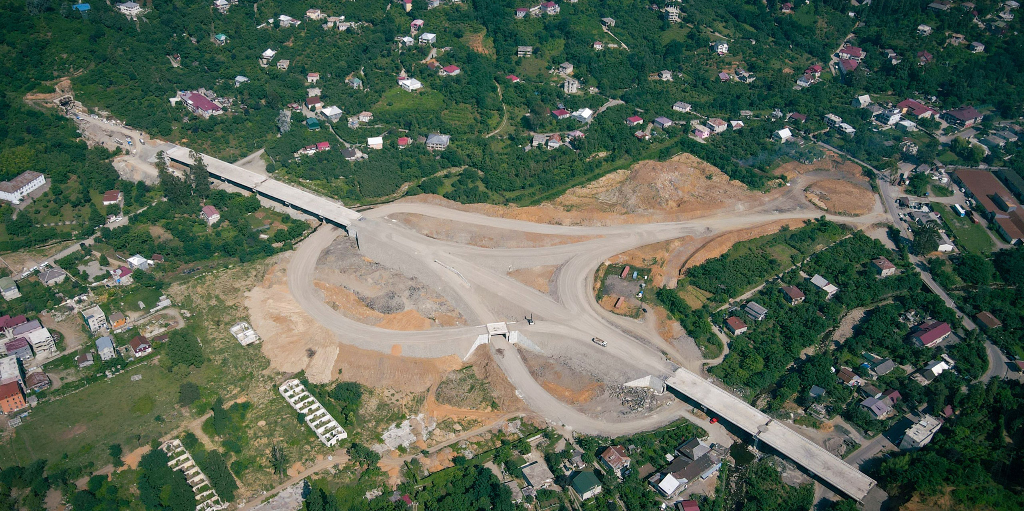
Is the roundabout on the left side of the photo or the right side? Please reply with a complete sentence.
The roundabout sits on the right side.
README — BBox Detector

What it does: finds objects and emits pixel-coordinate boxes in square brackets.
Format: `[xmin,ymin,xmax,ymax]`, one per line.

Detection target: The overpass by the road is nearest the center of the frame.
[467,321,539,355]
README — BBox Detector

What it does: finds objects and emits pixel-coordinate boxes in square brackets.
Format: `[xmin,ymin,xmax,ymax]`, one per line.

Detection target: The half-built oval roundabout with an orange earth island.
[759,169,892,222]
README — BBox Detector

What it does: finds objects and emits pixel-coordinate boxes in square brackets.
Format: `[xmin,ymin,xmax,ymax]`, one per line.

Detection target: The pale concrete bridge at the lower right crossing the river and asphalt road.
[625,366,878,496]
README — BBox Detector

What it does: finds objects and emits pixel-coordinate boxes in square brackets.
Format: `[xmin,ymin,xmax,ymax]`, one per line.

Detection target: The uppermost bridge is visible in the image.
[167,150,362,251]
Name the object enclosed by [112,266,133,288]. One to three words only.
house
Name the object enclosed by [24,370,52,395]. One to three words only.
house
